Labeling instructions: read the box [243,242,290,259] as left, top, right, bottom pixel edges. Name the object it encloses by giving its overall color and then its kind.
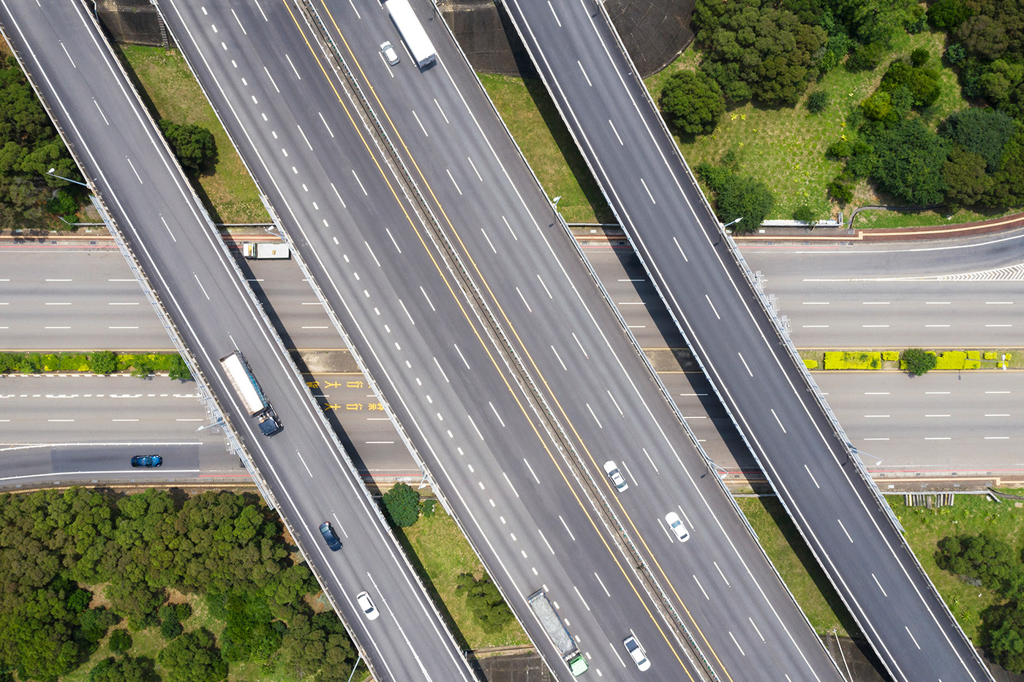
white vehicle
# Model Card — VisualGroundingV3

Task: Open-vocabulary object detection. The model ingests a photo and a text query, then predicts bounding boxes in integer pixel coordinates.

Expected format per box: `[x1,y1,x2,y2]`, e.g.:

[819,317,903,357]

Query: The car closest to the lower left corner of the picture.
[131,454,163,469]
